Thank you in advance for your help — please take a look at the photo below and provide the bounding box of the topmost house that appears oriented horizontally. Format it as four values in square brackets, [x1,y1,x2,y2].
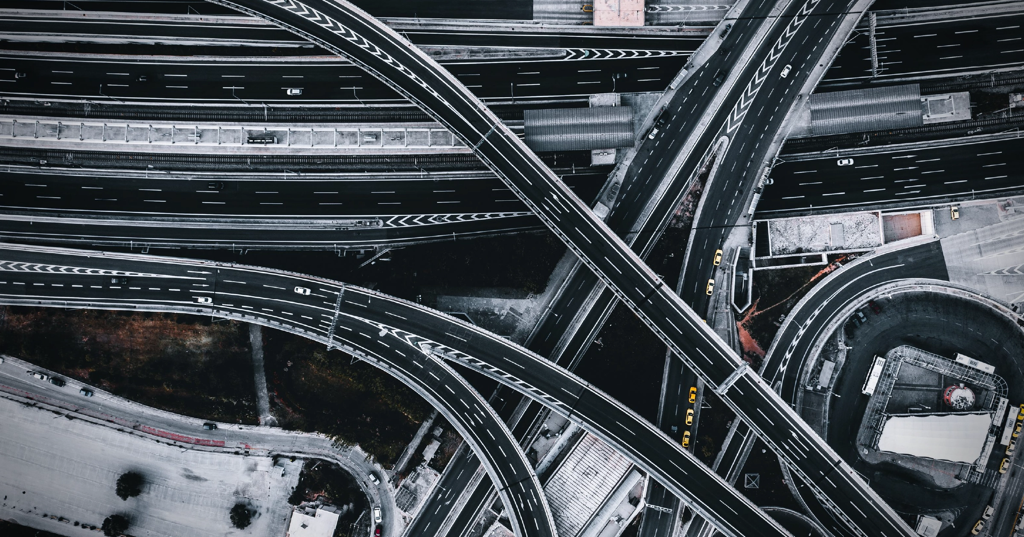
[587,92,620,107]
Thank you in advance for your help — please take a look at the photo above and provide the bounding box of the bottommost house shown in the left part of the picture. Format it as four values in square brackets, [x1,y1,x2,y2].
[288,502,343,537]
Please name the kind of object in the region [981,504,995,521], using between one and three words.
car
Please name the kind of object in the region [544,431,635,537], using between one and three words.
building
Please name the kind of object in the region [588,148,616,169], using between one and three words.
house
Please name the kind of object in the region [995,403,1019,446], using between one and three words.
bus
